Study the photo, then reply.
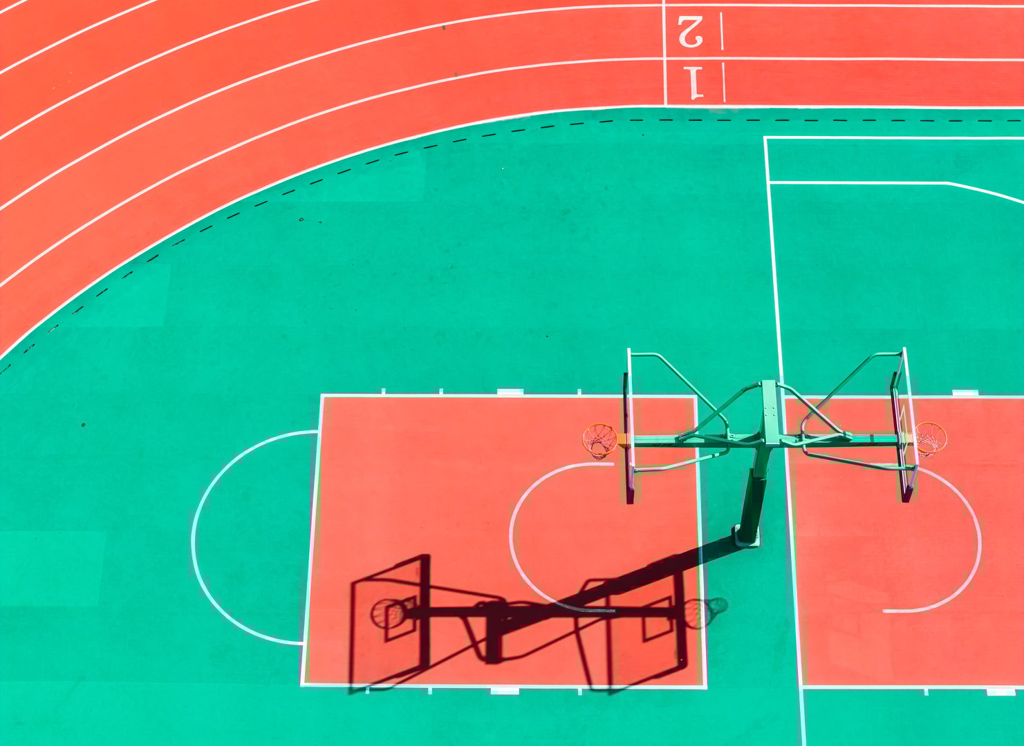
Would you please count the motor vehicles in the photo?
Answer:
0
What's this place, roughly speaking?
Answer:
sports ground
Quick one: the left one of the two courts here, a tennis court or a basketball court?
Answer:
basketball court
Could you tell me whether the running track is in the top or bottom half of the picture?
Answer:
top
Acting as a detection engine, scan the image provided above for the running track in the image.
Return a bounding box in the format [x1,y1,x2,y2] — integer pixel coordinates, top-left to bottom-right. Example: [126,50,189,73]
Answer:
[0,0,1024,359]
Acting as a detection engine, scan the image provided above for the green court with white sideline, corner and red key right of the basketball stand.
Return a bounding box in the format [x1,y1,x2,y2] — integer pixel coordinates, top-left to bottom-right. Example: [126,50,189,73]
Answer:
[764,136,1024,746]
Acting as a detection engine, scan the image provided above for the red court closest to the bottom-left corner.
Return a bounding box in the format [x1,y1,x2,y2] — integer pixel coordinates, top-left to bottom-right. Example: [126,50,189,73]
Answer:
[191,388,707,695]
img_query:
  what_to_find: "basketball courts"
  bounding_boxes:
[764,136,1024,746]
[191,388,707,695]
